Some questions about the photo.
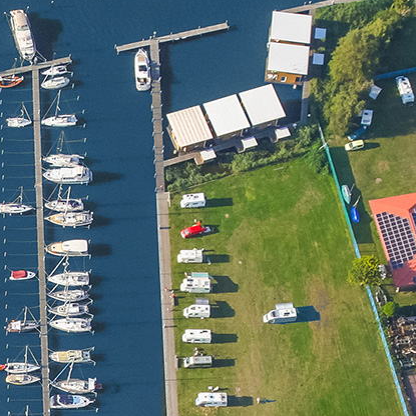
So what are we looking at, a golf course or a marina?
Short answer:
marina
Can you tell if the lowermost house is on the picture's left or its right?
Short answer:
right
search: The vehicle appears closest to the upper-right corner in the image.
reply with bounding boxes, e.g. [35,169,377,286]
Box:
[396,79,413,108]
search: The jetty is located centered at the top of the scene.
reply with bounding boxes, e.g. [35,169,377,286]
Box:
[116,21,230,191]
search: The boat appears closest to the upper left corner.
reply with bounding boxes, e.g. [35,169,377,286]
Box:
[10,8,35,59]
